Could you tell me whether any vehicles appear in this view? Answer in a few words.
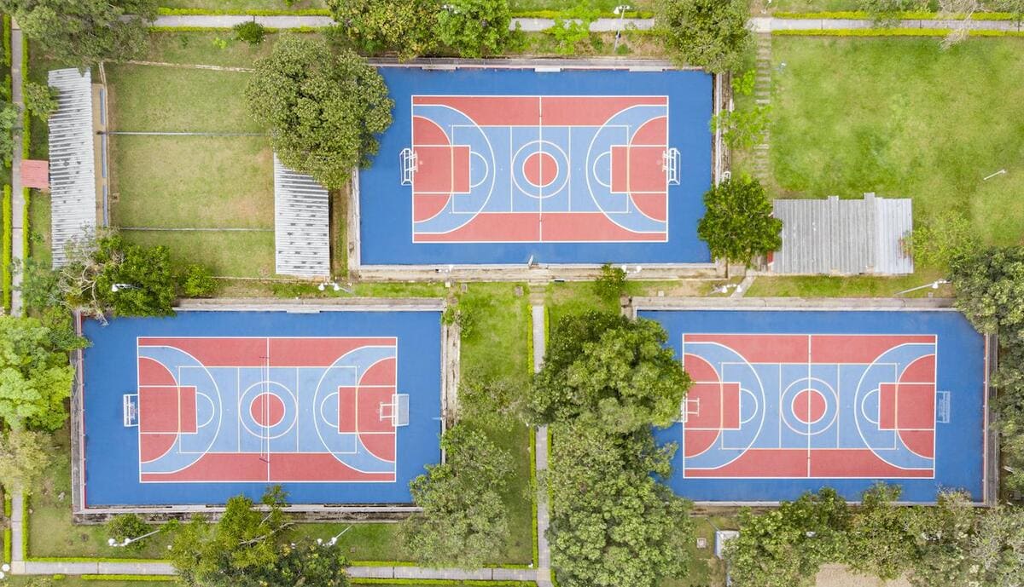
No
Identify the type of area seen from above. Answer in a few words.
sports ground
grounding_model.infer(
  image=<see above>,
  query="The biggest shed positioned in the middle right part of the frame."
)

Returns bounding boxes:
[762,192,912,277]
